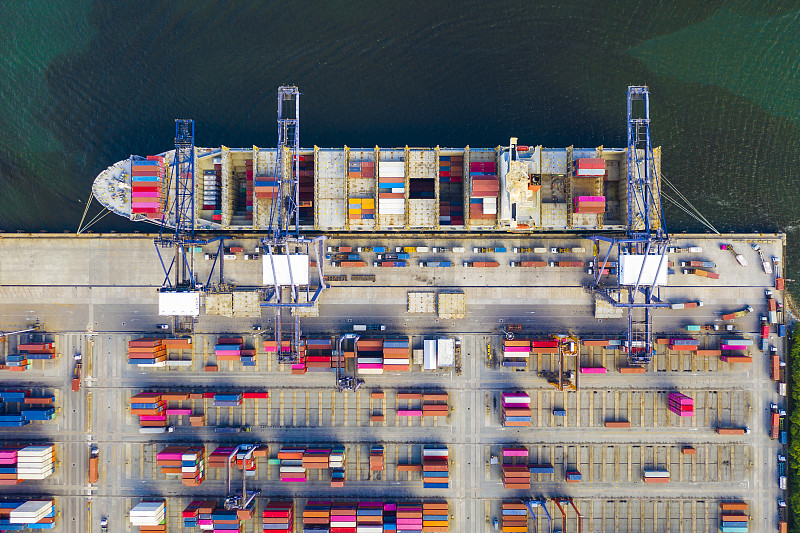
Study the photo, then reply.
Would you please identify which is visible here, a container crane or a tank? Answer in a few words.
container crane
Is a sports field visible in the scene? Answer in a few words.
No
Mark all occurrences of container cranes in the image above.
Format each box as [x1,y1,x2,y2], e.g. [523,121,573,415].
[584,84,673,365]
[338,334,362,399]
[546,332,581,392]
[552,496,586,533]
[523,498,555,533]
[259,86,335,363]
[155,117,238,334]
[227,441,259,512]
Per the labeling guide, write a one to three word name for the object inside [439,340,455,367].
shed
